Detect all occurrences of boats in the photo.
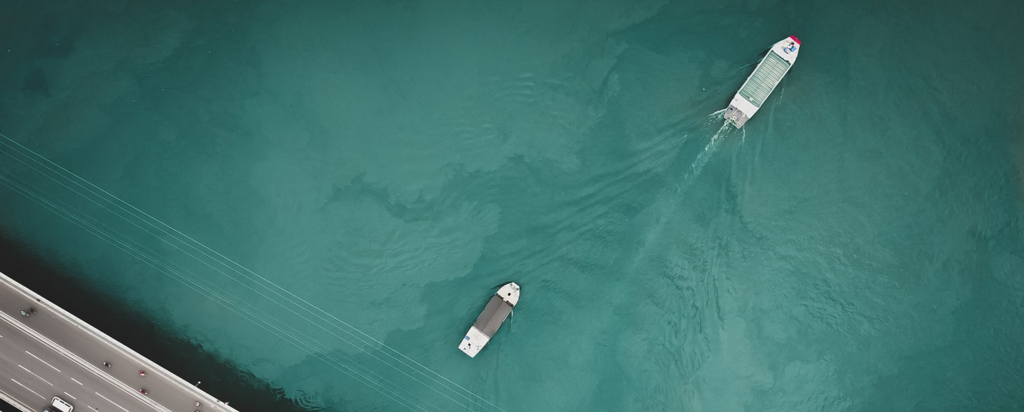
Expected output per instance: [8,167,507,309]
[458,282,520,358]
[723,34,801,129]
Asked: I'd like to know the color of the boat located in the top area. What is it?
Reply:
white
